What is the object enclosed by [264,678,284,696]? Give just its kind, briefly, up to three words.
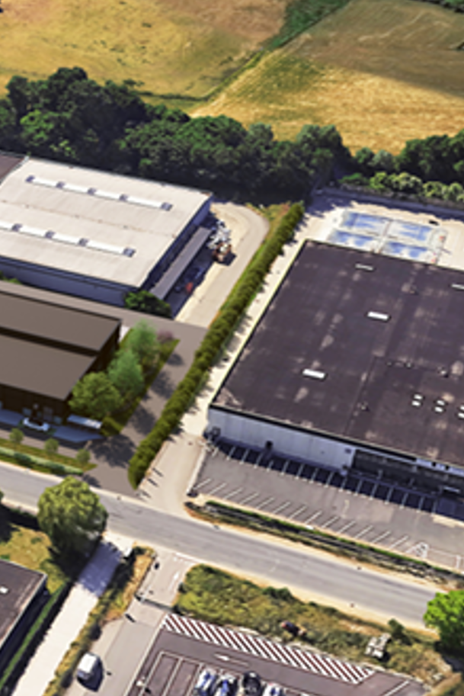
car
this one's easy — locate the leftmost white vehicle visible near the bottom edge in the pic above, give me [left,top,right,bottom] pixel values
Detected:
[80,642,97,683]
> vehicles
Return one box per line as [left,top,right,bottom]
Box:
[193,667,214,694]
[213,673,234,696]
[241,671,262,696]
[80,642,97,683]
[264,678,284,696]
